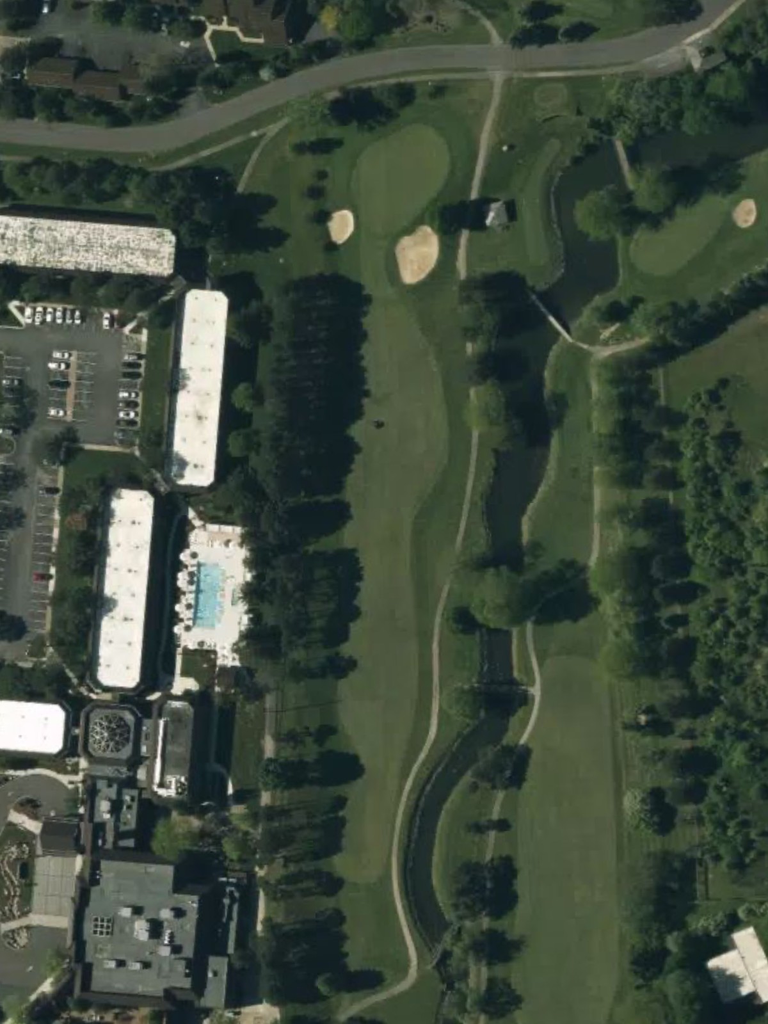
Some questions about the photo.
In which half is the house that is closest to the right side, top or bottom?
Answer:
bottom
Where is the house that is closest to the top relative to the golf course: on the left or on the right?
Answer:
to the left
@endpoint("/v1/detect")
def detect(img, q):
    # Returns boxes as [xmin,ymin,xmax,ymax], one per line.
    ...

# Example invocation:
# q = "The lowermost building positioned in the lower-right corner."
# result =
[707,925,768,1004]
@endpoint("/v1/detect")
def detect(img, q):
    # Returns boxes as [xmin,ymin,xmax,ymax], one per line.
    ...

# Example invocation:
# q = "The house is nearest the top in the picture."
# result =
[204,0,289,46]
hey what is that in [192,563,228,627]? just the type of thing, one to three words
swimming pool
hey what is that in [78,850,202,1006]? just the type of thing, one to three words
building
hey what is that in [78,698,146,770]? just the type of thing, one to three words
building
